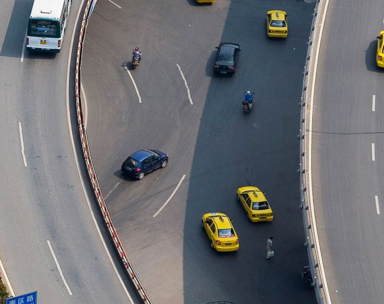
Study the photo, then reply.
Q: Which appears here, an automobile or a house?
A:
automobile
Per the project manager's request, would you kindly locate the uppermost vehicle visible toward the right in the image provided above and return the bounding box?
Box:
[263,3,290,33]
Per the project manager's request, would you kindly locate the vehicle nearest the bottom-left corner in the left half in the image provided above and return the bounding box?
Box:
[118,146,170,179]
